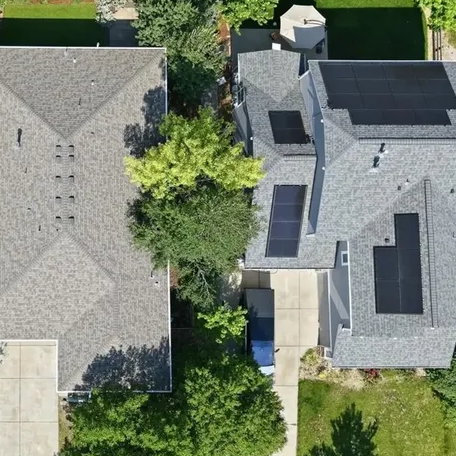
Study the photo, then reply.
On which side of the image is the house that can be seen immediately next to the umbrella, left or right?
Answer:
right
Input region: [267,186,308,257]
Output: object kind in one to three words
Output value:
solar array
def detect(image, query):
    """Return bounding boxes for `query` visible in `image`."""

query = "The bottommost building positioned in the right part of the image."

[234,39,456,370]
